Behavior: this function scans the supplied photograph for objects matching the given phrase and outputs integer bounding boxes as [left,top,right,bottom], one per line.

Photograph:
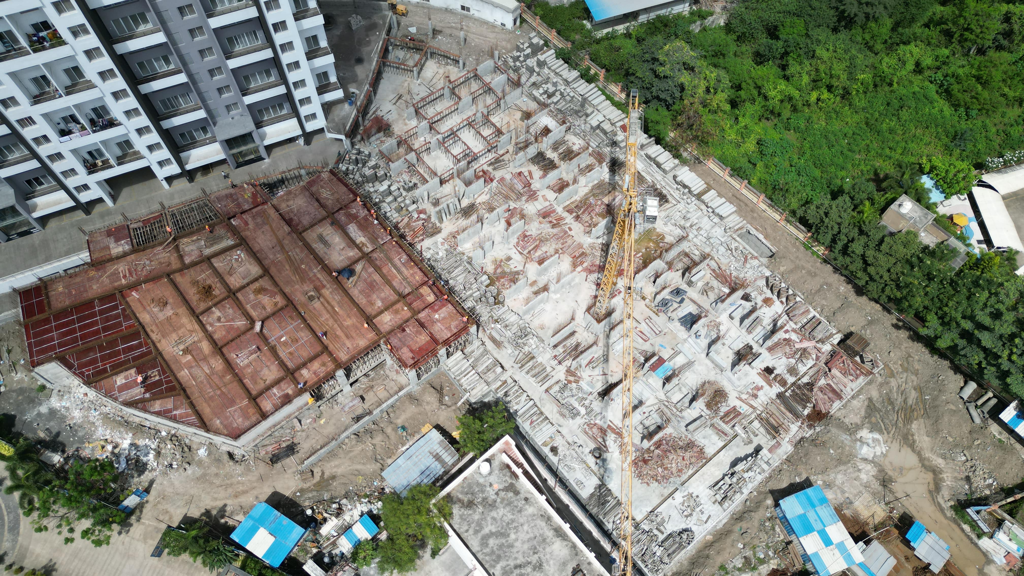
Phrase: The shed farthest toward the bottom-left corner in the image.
[123,489,158,520]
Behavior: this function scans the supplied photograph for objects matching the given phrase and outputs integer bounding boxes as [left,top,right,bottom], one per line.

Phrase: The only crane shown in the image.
[595,86,658,576]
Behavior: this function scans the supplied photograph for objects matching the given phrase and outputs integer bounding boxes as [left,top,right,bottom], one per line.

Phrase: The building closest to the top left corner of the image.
[0,0,344,243]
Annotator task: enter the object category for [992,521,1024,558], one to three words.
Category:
shed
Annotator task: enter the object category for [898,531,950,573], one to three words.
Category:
shed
